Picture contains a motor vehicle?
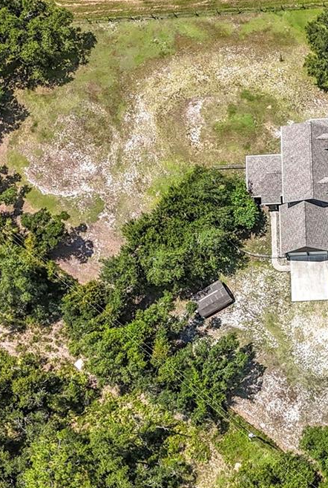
No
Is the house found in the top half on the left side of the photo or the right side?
right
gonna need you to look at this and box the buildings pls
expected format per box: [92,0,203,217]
[191,282,232,320]
[246,115,328,260]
